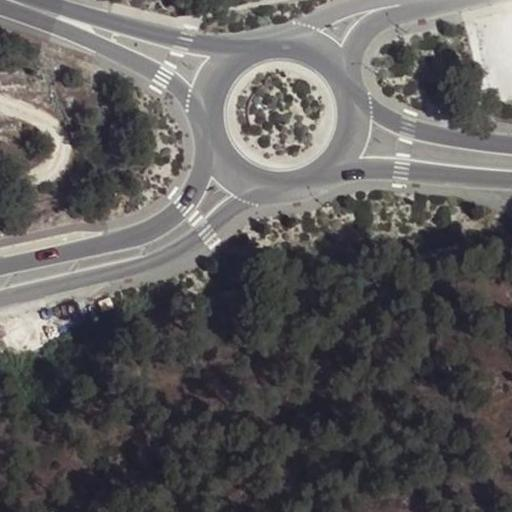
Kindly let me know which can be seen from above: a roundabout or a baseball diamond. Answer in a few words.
roundabout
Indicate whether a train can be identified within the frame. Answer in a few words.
No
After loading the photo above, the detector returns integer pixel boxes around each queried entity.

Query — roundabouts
[194,28,366,200]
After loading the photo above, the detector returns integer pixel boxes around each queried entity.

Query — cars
[36,248,59,260]
[181,185,196,205]
[342,169,364,180]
